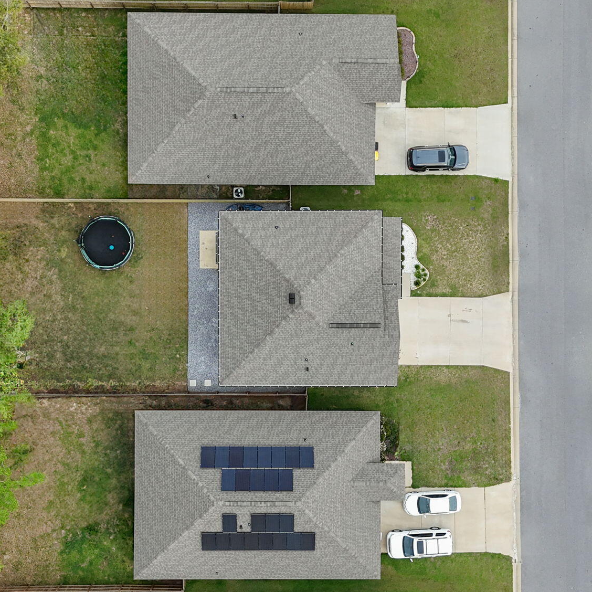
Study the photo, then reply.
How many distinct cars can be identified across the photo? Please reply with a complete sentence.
Altogether the scene contains 3 cars.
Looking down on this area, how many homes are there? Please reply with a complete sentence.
Altogether the scene contains 3 homes.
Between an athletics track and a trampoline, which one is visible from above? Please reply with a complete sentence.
Looking from above, you can make out a trampoline.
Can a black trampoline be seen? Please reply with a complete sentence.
Yes, the frame does contain a black trampoline.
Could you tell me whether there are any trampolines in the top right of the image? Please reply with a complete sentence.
No, no trampoline is visible in the top right of the image.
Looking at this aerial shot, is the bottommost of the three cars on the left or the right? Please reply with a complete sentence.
The bottommost of the three cars is on the right side of the image.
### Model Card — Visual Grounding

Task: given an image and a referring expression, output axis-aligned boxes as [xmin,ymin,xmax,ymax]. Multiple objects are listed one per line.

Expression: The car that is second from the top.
[401,487,461,519]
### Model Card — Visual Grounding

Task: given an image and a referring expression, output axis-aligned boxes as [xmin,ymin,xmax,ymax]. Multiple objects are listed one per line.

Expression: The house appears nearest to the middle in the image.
[217,209,404,387]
